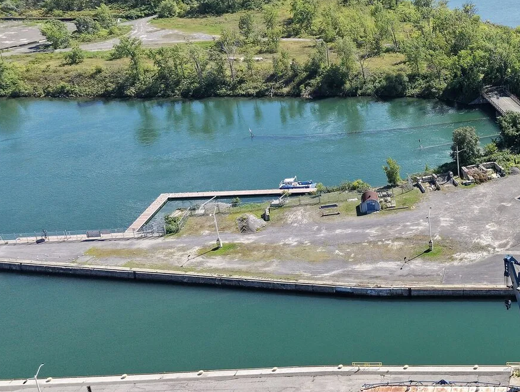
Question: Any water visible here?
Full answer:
Yes, water shows up in the scene.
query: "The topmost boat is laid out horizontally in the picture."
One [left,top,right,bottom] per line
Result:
[277,173,315,190]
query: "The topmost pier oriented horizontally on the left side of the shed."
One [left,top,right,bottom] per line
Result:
[123,188,317,234]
